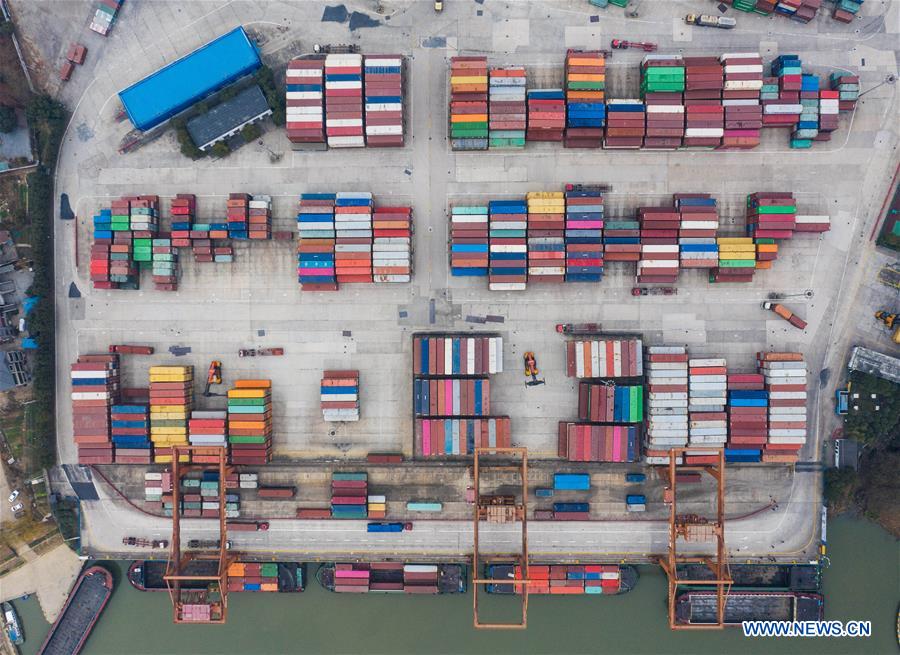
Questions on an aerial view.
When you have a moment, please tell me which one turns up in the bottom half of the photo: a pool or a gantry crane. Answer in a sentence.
It is a gantry crane that can be seen in the bottom half of the photo.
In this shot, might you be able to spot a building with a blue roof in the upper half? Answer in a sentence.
Yes, a building with a blue roof is visible in the upper half.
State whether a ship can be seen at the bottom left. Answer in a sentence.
Yes, a ship can be seen at the bottom left.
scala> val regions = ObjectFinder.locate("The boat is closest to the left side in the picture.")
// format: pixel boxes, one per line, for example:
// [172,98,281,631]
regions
[4,605,25,644]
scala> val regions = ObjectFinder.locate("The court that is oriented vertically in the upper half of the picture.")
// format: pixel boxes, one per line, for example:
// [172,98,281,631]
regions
[876,185,900,251]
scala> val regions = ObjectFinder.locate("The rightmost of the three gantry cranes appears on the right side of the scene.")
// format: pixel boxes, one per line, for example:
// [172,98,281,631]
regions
[650,448,734,627]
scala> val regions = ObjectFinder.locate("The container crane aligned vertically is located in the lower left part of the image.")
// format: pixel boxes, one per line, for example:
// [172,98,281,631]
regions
[163,448,247,630]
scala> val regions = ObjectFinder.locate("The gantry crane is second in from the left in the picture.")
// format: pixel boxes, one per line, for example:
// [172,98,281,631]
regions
[463,448,531,627]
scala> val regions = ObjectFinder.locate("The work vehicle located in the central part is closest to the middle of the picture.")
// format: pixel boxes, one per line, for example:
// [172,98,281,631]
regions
[524,352,544,389]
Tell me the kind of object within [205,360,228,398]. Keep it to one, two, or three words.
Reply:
work vehicle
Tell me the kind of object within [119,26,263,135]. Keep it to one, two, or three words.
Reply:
building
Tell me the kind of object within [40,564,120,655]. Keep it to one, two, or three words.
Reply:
ship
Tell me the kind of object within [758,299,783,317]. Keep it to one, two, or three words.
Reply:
vehicle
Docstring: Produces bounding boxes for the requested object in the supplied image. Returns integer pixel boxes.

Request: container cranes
[650,448,734,627]
[163,448,247,630]
[463,448,531,627]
